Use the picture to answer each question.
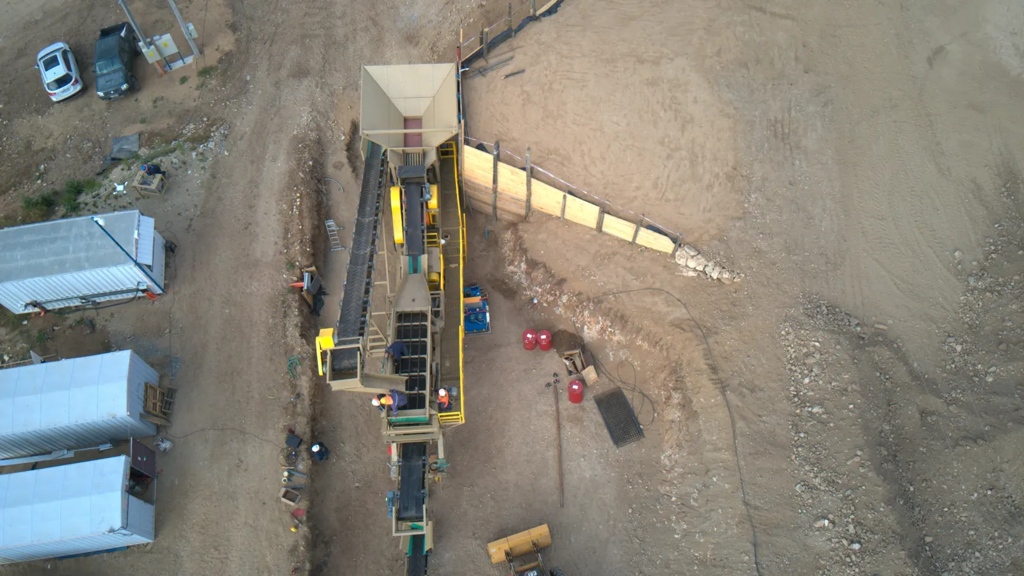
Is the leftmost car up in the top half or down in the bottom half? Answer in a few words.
top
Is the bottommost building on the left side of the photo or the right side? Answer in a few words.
left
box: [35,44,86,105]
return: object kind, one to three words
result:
car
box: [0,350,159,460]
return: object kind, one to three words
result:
building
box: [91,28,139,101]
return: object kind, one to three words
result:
truck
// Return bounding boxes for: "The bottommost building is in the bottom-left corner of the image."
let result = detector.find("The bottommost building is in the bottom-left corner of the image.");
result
[0,422,158,572]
